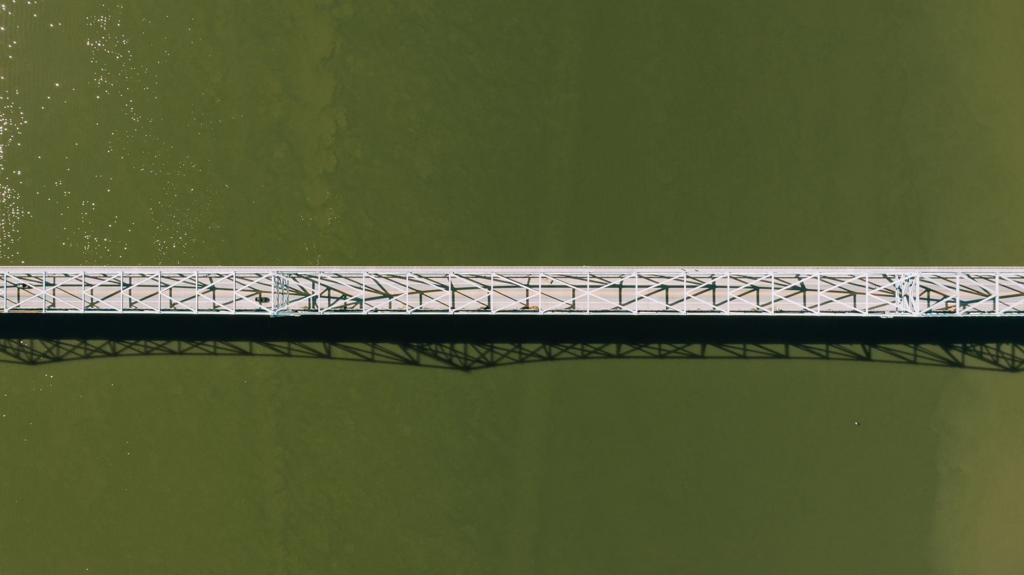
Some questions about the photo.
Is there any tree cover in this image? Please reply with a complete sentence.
No, no tree cover is visible.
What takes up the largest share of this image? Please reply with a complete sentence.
The bulk of the photo consists of water.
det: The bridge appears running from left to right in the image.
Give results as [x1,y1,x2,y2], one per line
[0,265,1024,319]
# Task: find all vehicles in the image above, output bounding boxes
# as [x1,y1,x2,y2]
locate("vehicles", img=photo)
[255,297,270,303]
[16,283,30,289]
